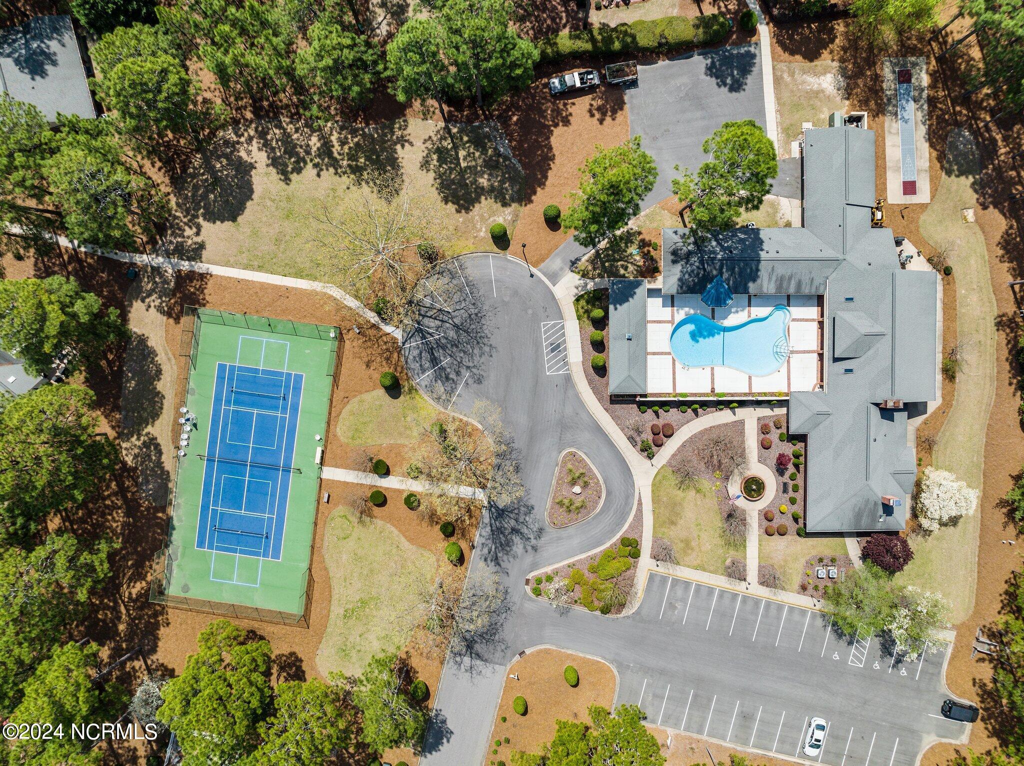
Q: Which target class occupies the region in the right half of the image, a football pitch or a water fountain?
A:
water fountain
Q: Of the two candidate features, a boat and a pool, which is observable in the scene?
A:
pool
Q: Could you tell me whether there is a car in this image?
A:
Yes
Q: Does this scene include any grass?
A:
Yes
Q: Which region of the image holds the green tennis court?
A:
left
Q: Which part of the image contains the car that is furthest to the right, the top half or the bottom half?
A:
bottom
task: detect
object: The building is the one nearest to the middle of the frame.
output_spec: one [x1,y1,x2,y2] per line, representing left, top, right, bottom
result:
[608,279,647,395]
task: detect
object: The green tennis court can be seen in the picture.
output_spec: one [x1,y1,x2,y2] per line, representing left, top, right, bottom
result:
[162,309,336,612]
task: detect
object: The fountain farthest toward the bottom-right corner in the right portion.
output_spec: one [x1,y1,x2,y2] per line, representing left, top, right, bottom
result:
[741,475,769,502]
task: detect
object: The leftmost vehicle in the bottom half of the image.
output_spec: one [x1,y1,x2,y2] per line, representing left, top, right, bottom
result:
[803,717,824,756]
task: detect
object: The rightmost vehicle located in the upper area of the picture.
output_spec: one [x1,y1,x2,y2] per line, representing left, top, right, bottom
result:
[869,197,886,228]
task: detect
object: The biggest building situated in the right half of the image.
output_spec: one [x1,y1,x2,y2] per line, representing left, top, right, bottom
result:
[661,126,937,532]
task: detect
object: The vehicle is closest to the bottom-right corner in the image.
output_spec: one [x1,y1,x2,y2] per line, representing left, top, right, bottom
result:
[939,698,978,723]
